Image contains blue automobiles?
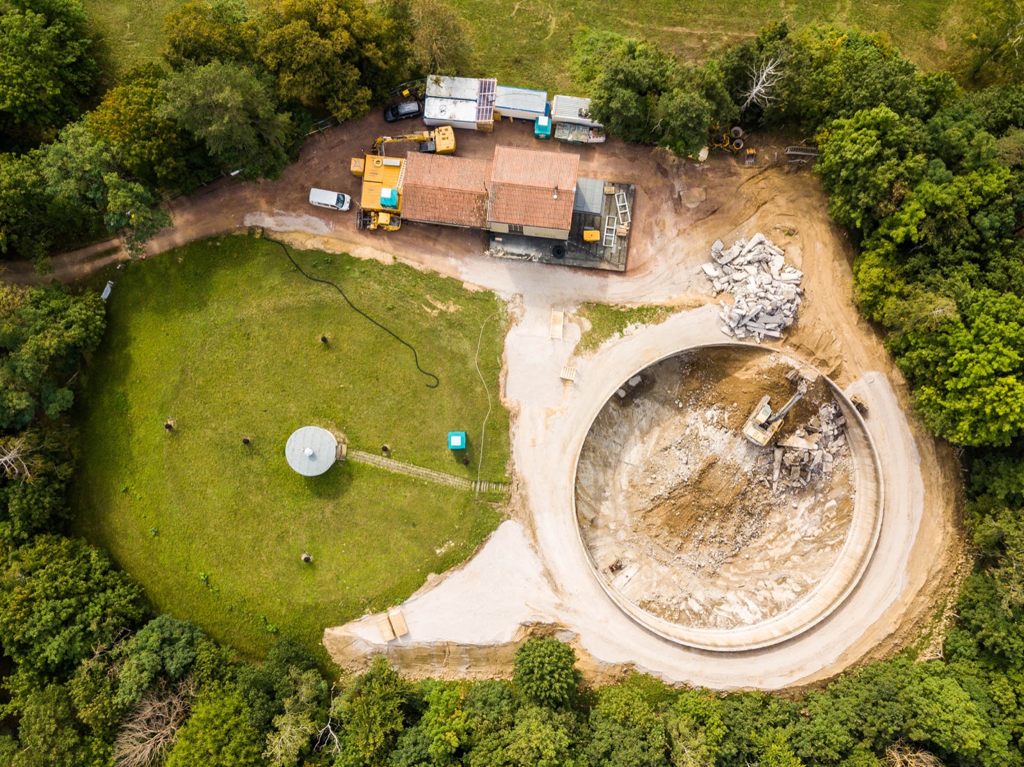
No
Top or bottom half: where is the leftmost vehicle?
top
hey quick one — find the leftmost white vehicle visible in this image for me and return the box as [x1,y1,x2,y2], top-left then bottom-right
[307,185,350,209]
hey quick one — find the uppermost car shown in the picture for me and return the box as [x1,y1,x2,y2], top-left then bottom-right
[382,96,422,122]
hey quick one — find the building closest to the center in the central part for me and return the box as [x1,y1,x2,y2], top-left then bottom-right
[448,431,467,449]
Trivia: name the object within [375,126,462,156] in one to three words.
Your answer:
work vehicle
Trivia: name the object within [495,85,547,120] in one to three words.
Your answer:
building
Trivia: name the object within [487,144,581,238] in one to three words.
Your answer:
house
